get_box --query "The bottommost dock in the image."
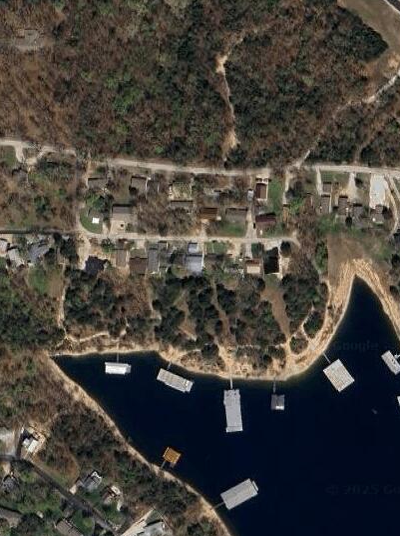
[213,478,258,508]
